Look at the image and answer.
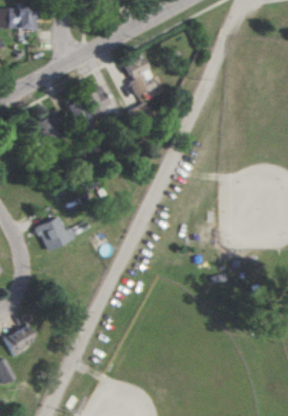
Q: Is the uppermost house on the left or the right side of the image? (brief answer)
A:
left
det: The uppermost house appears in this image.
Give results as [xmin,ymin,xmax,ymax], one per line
[0,5,39,42]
